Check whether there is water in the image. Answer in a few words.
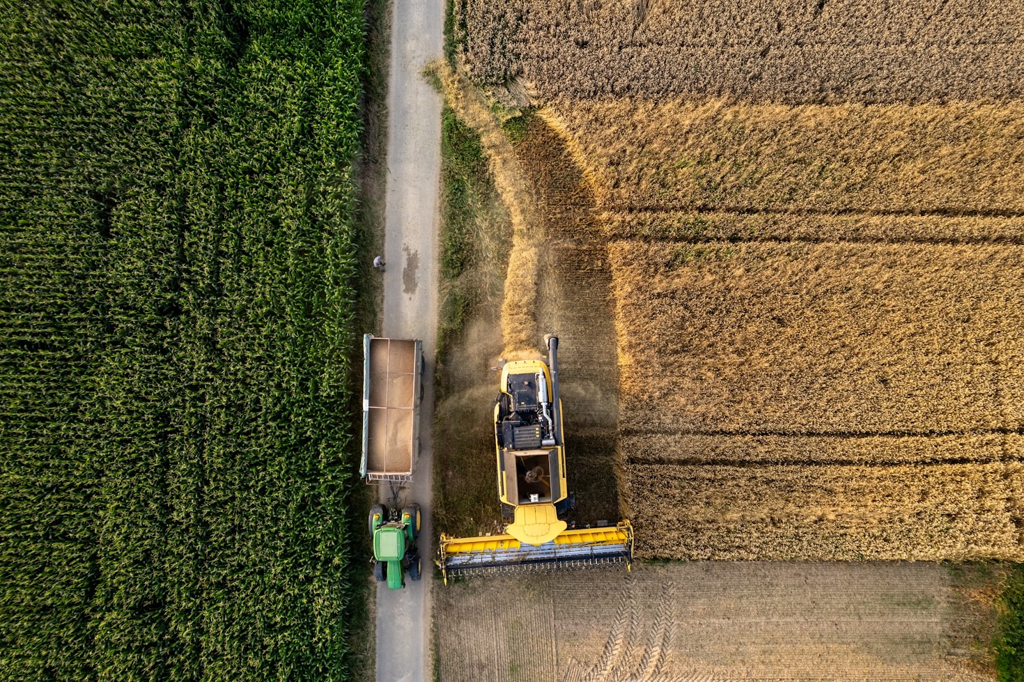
No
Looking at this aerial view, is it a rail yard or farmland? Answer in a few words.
farmland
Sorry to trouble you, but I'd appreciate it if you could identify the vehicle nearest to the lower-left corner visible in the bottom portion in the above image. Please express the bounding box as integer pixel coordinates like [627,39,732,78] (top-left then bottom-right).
[366,499,422,589]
